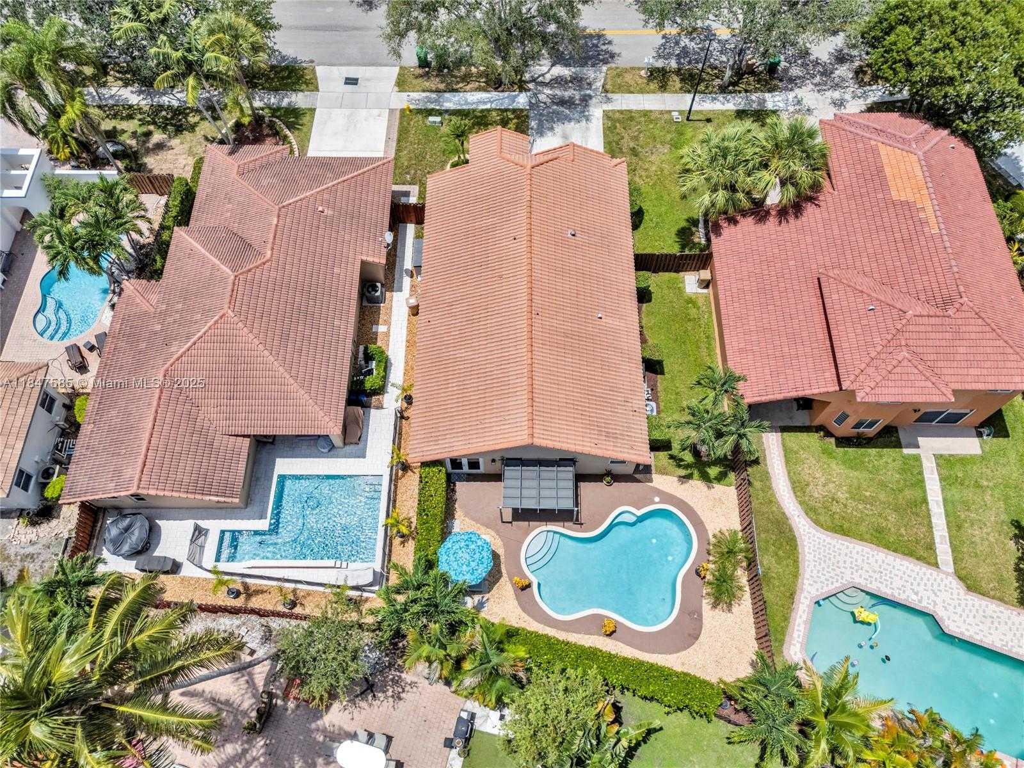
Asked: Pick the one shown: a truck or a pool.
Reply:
pool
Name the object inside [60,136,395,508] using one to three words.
house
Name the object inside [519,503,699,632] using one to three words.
swimming pool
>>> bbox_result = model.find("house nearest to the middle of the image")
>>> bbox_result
[407,126,652,476]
